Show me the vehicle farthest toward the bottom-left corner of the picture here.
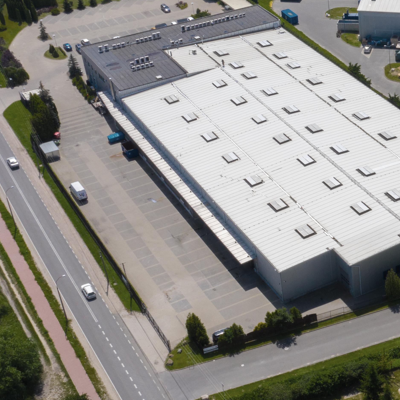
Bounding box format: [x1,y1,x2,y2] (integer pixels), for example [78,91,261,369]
[81,285,98,301]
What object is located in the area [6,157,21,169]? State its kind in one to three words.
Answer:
vehicle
